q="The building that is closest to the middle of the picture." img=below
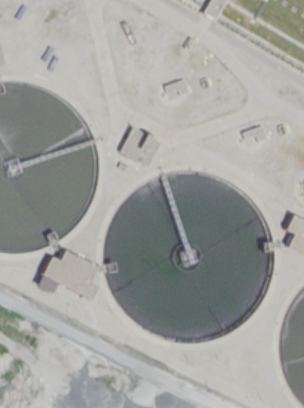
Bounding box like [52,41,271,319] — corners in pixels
[118,126,161,165]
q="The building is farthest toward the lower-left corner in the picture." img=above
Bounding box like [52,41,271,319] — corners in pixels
[37,249,100,300]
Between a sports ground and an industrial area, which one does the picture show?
industrial area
